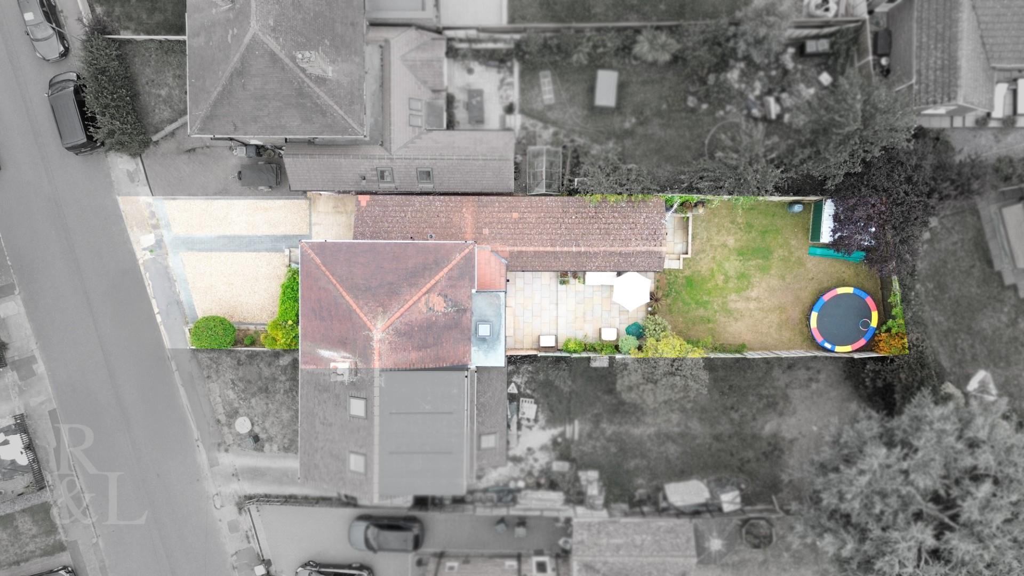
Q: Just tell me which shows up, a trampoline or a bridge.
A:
trampoline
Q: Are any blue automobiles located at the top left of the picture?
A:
No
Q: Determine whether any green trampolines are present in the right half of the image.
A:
No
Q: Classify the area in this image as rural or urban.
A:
urban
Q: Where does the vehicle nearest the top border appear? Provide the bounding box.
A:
[18,0,72,59]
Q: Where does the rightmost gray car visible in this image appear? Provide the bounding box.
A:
[349,516,425,557]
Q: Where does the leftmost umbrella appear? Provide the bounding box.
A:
[615,274,649,311]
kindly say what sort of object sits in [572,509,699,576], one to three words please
shed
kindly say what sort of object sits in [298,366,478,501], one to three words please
house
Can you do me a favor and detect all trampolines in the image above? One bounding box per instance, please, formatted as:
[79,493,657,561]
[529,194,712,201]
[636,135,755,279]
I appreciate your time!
[802,284,878,354]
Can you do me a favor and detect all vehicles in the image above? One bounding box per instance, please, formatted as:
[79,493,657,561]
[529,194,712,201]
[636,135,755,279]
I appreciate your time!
[45,74,104,159]
[9,566,72,576]
[18,0,72,59]
[349,516,425,557]
[295,560,372,576]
